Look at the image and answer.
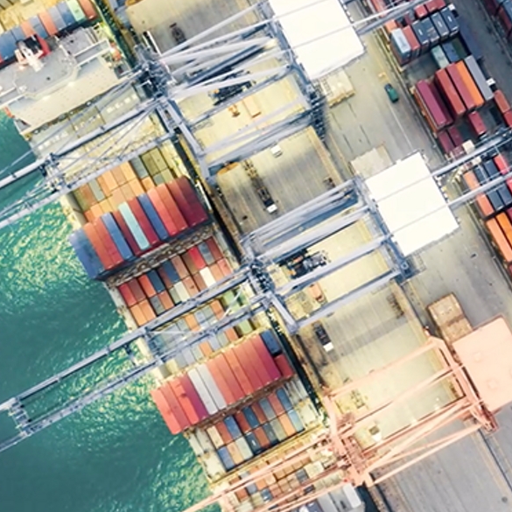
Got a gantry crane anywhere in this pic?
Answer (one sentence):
Yes, there's a gantry crane here.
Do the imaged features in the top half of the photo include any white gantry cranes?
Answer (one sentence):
Yes, there is a white gantry crane in the top half of the photo.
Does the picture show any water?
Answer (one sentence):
Yes, water can be seen from above here.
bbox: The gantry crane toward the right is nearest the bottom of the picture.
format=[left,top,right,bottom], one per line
[164,309,512,512]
